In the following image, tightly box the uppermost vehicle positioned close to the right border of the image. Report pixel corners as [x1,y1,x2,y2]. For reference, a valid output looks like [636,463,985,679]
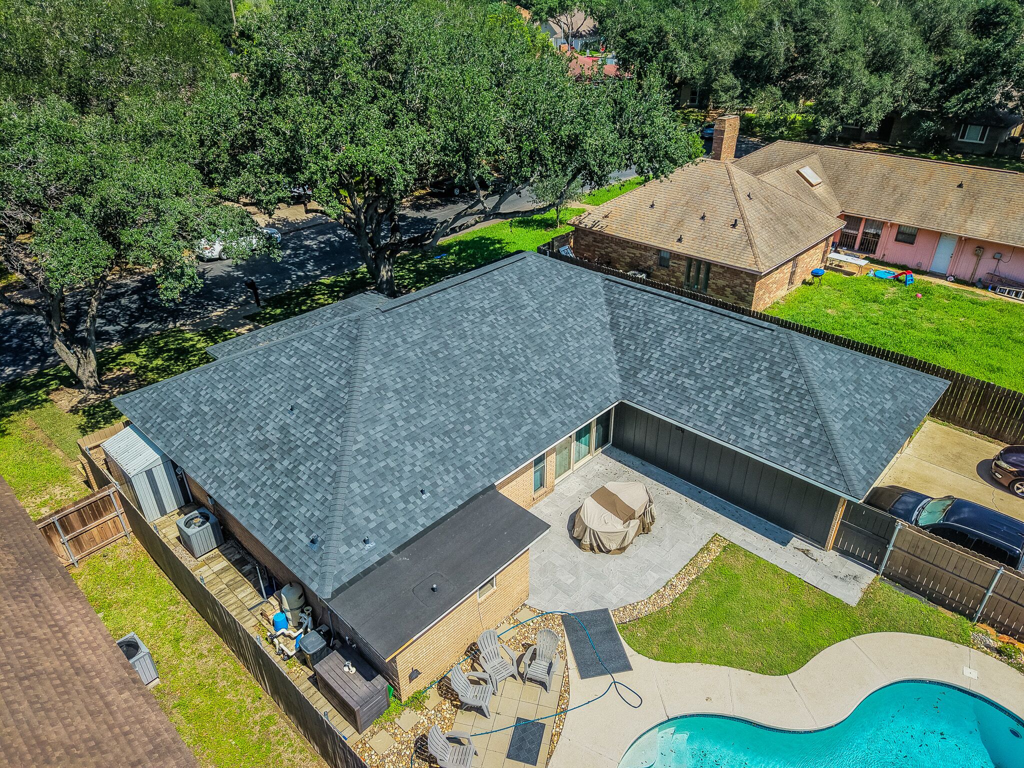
[988,439,1024,494]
